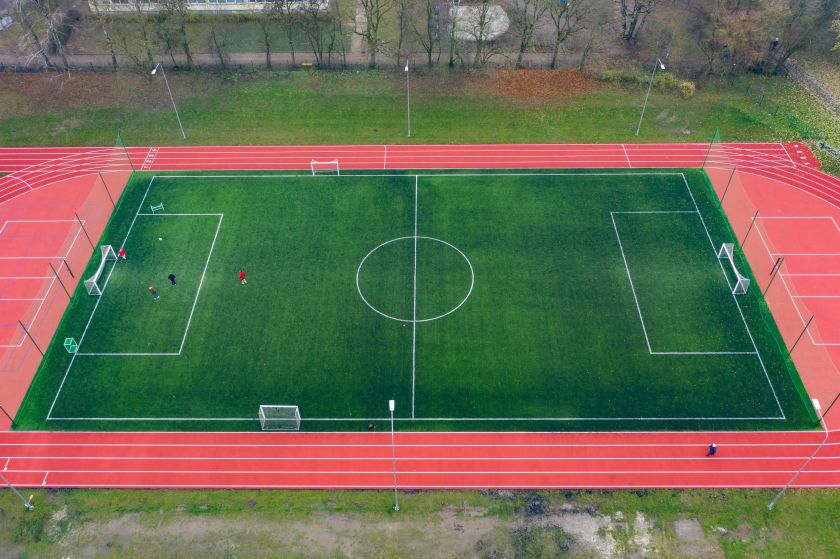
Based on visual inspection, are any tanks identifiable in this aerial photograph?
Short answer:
No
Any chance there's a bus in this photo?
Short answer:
No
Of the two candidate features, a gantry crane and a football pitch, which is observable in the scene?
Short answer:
football pitch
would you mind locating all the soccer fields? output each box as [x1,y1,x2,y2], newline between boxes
[9,167,821,432]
